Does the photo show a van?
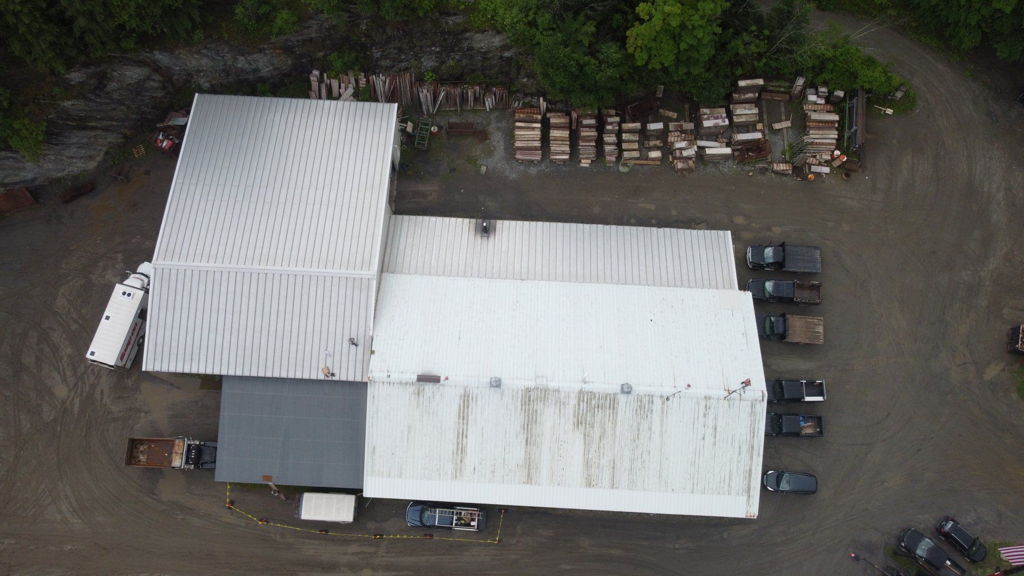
Yes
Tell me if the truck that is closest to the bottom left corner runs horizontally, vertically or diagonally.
horizontally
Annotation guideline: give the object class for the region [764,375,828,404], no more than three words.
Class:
truck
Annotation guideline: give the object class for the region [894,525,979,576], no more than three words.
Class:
truck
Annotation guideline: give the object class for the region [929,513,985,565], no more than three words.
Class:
car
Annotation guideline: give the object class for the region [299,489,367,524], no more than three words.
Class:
van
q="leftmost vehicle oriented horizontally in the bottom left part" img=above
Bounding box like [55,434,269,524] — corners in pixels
[122,436,217,472]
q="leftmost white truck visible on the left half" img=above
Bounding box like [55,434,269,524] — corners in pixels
[86,260,151,373]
